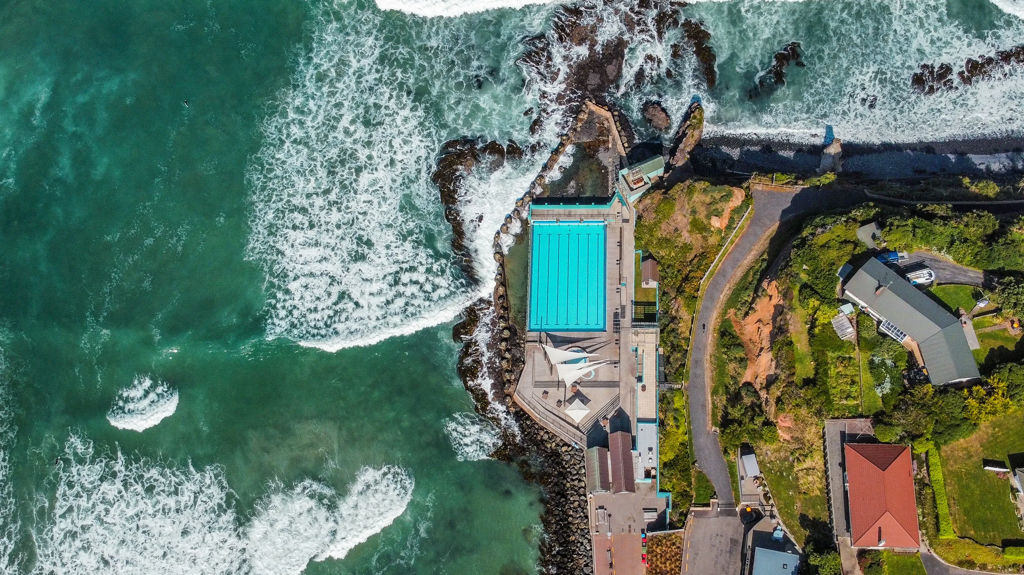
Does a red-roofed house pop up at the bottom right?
Yes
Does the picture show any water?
Yes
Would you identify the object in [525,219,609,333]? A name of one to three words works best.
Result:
swimming pool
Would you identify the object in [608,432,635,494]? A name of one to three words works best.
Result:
building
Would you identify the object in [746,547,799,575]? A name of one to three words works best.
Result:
house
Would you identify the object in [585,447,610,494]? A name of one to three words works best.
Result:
building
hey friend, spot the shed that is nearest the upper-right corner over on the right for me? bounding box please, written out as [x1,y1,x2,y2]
[856,222,881,243]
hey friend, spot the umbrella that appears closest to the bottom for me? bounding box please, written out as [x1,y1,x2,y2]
[564,398,590,424]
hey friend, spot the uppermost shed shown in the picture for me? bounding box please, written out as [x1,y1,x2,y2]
[617,154,665,204]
